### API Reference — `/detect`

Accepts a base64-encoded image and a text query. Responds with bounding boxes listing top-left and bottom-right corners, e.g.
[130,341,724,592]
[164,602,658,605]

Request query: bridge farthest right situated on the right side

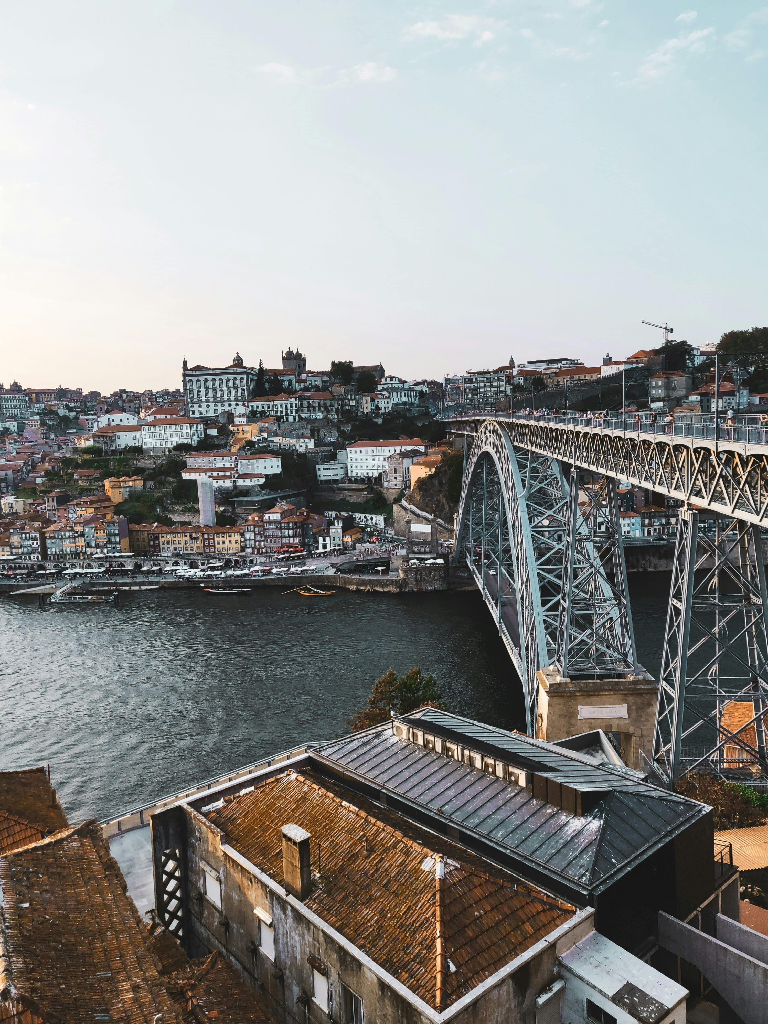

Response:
[439,407,768,789]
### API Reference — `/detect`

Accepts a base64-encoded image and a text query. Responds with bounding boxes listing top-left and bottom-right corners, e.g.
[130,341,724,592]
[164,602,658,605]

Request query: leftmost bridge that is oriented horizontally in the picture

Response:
[328,556,399,575]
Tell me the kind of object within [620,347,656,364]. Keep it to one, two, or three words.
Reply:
house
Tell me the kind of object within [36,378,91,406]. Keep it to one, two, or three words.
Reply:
building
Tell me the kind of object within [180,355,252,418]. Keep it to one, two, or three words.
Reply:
building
